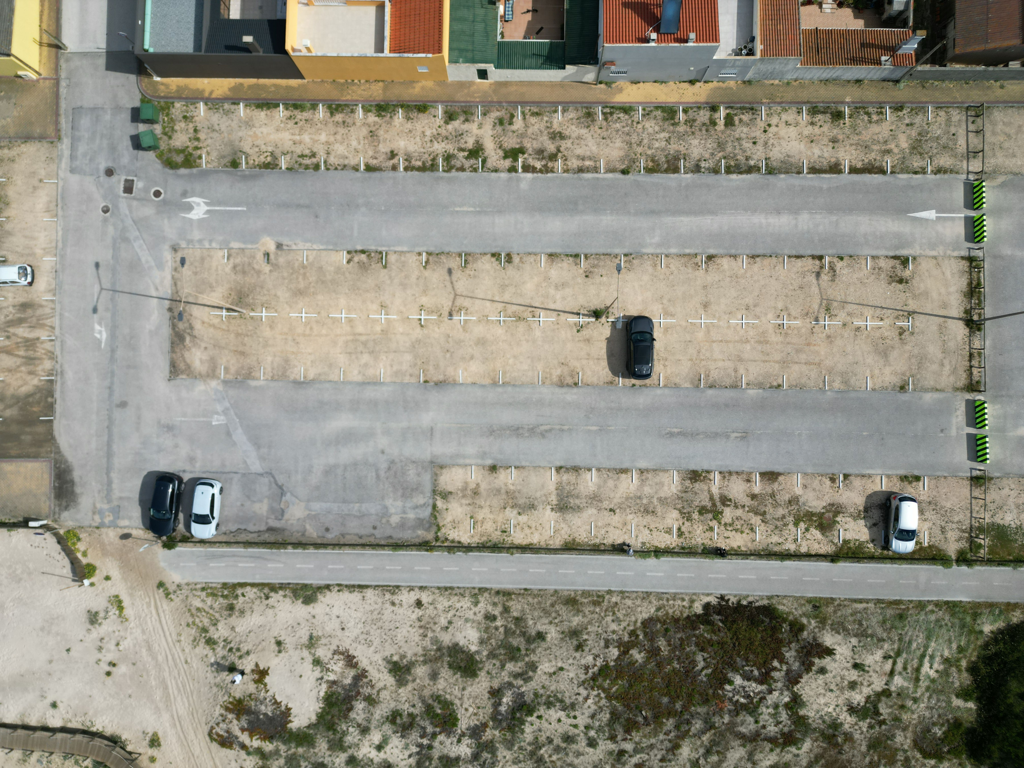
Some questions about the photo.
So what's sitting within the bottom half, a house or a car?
car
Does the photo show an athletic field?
No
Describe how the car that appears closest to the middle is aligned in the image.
vertically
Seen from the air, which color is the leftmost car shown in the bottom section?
black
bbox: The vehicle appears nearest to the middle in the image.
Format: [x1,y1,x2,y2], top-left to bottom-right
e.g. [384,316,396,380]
[625,316,657,381]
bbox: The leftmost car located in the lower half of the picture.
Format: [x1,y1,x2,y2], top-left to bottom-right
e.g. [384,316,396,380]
[147,473,186,536]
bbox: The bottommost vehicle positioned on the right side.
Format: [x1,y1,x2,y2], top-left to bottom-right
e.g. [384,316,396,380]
[885,492,922,553]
